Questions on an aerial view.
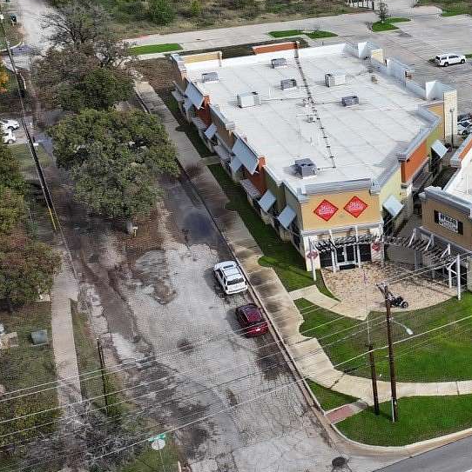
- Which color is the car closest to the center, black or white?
white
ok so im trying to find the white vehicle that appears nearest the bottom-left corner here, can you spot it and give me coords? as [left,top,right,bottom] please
[214,262,248,294]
